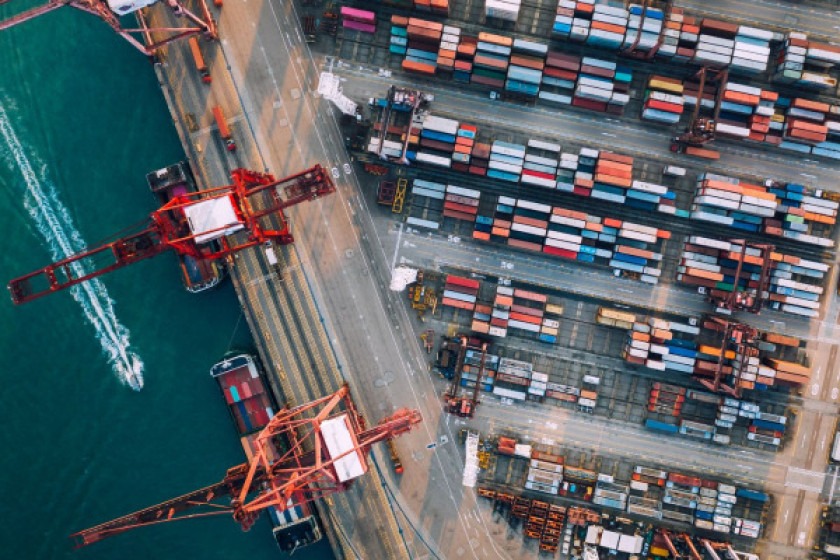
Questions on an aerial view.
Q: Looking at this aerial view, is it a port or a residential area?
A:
port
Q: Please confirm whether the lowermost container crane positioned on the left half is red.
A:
Yes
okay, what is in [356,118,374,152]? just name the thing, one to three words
work vehicle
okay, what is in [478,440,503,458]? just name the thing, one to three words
work vehicle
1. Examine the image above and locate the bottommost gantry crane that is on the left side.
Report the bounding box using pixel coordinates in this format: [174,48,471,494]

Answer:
[58,377,420,553]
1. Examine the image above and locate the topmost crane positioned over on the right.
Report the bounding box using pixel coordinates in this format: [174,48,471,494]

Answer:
[608,0,660,63]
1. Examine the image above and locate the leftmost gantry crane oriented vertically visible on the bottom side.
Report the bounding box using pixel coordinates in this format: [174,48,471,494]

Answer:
[443,332,486,411]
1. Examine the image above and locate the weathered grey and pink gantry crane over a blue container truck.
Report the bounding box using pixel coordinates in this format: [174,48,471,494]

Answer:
[380,84,423,167]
